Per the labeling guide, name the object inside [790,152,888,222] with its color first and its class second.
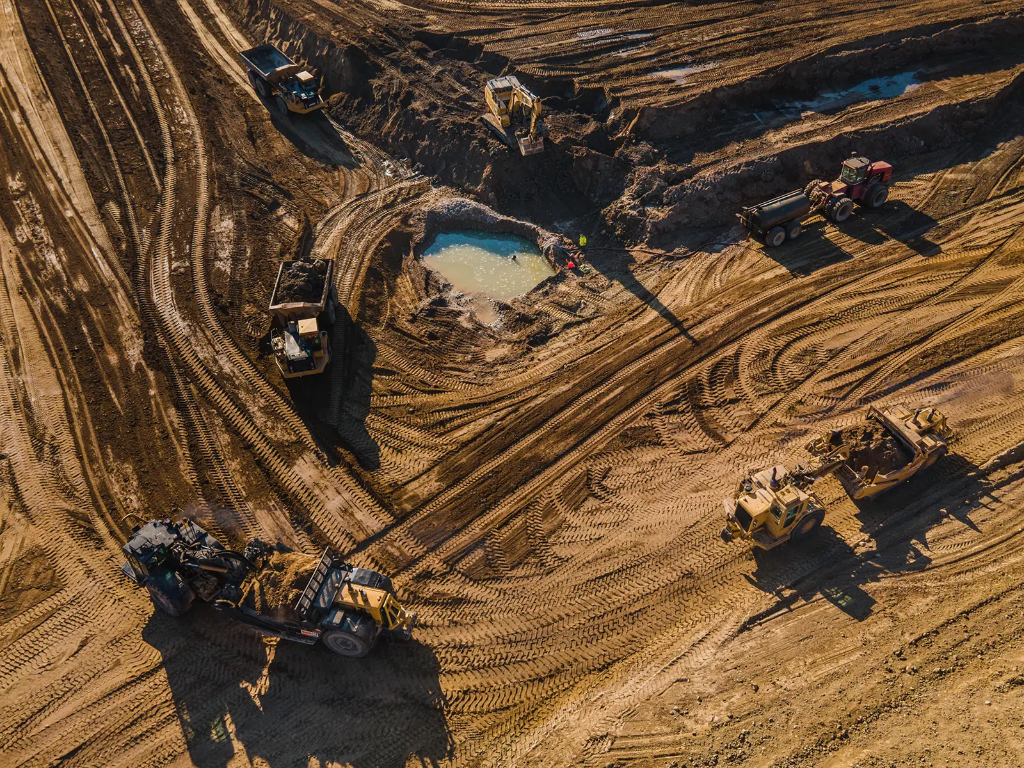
black work vehicle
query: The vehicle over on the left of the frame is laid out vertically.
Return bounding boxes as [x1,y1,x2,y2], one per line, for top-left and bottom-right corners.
[268,244,335,378]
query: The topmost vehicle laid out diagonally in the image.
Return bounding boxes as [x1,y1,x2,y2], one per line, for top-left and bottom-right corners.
[240,47,326,123]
